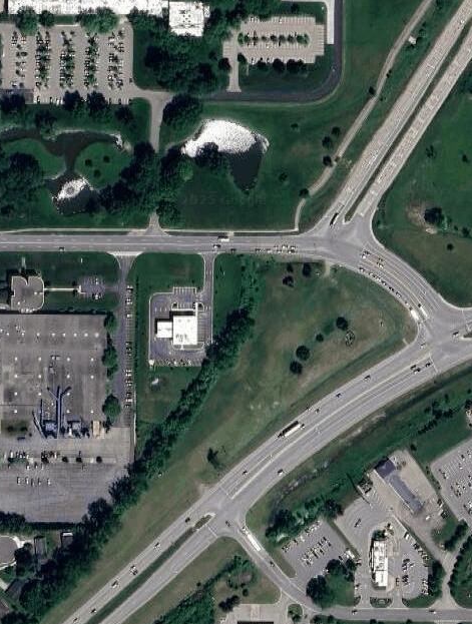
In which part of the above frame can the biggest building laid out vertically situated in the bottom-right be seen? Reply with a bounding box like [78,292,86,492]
[372,541,388,587]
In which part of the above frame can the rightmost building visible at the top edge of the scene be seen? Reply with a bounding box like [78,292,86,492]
[169,2,210,37]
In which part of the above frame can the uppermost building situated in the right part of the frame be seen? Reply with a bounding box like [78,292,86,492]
[375,459,423,523]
